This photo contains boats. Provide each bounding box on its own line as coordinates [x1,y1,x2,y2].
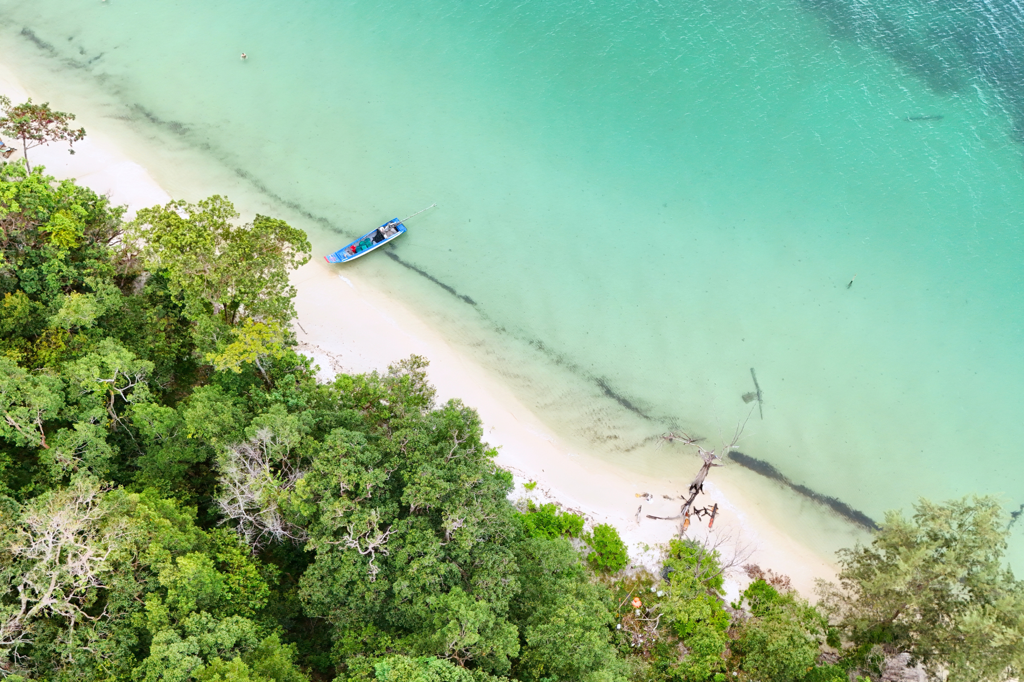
[322,202,437,264]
